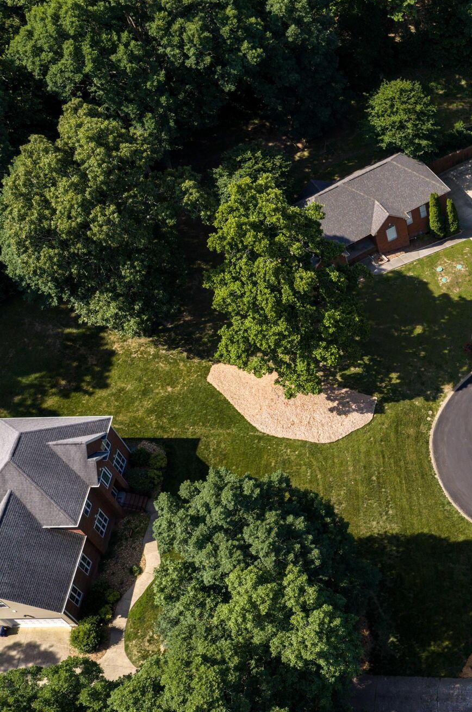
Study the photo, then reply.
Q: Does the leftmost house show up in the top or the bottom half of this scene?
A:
bottom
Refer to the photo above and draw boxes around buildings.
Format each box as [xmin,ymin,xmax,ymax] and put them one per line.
[254,143,451,280]
[0,415,160,627]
